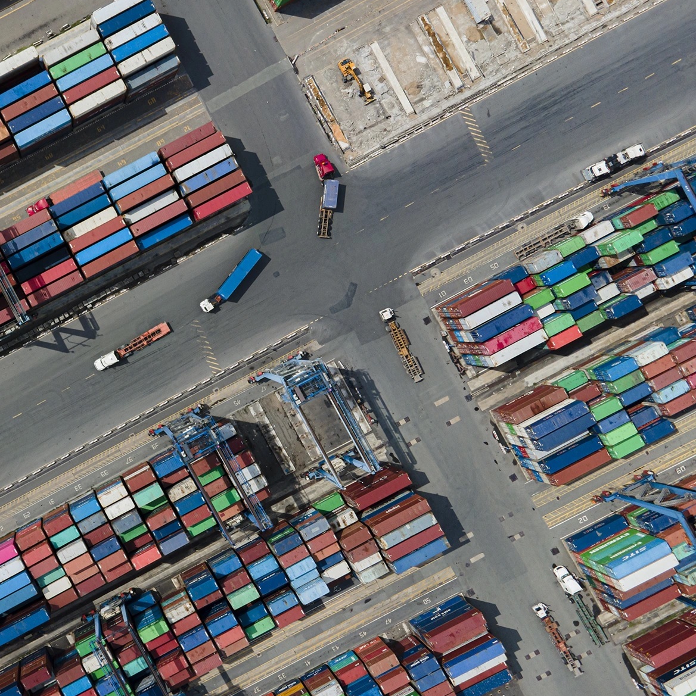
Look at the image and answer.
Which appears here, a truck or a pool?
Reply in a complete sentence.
This aerial view contains a truck.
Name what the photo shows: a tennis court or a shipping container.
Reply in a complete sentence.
It is a shipping container that can be seen here.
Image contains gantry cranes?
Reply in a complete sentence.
Yes, there's a gantry crane here.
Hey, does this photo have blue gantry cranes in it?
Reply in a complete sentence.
Yes, a blue gantry crane appears in the view.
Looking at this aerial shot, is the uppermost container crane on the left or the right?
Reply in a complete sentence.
The uppermost container crane is on the right side of the image.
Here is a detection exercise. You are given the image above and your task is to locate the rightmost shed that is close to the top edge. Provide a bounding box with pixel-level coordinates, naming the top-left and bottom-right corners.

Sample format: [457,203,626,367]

[460,0,493,25]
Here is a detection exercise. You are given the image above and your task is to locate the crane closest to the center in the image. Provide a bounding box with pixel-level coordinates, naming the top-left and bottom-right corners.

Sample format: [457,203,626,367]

[247,349,389,495]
